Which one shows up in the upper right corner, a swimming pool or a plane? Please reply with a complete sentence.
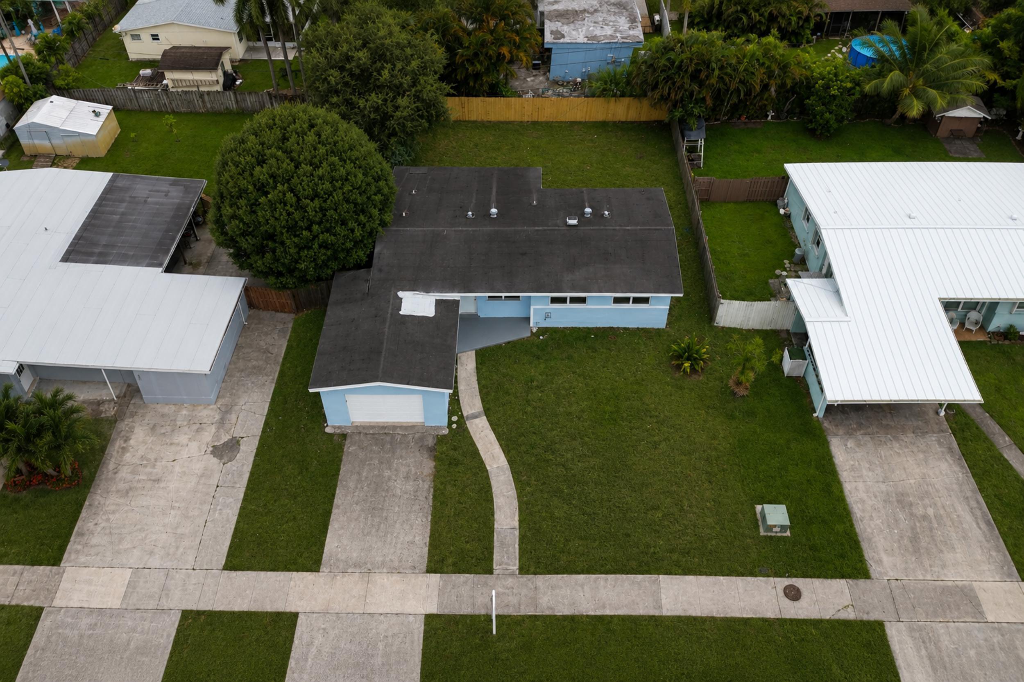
Looking in the upper right corner, you will find a swimming pool.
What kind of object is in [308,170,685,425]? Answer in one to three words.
house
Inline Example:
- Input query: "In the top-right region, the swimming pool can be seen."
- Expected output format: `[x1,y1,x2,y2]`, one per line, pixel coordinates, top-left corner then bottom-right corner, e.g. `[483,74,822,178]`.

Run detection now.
[846,32,908,73]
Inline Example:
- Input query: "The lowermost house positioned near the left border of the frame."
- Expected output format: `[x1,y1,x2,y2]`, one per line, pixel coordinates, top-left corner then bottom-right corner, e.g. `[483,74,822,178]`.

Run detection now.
[0,167,251,404]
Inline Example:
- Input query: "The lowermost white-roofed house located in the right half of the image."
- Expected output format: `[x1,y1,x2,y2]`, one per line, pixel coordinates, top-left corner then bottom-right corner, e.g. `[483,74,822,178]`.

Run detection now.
[782,163,1024,418]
